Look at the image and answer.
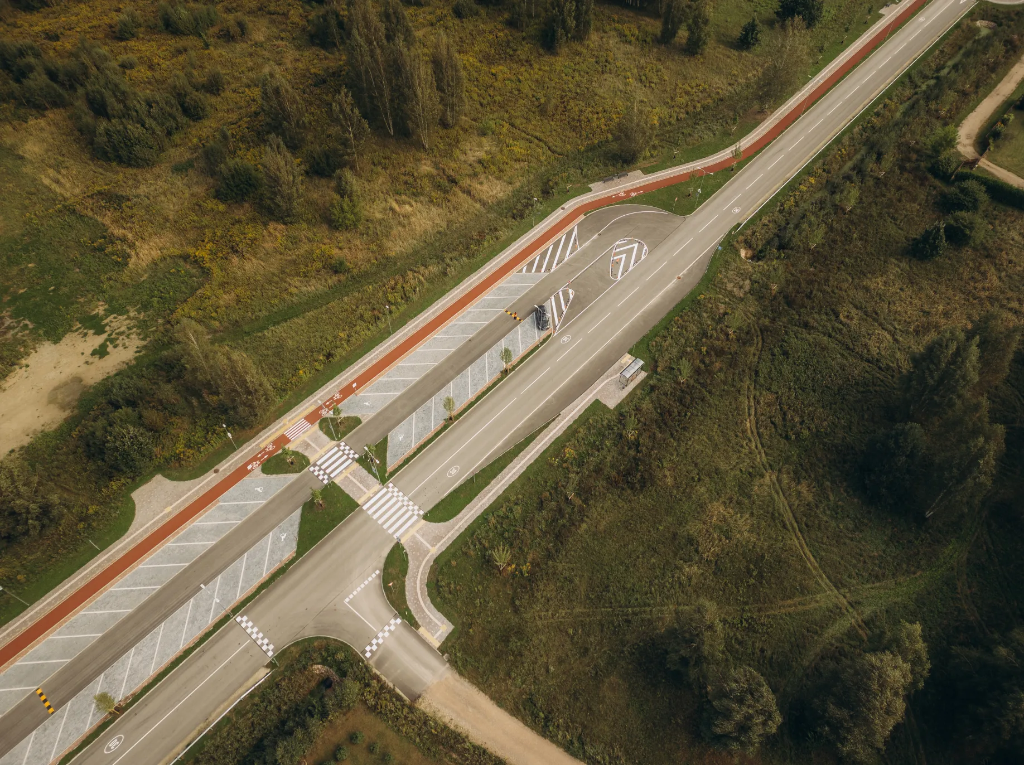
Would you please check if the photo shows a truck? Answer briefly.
No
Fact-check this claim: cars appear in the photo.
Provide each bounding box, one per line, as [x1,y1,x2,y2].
[538,304,551,328]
